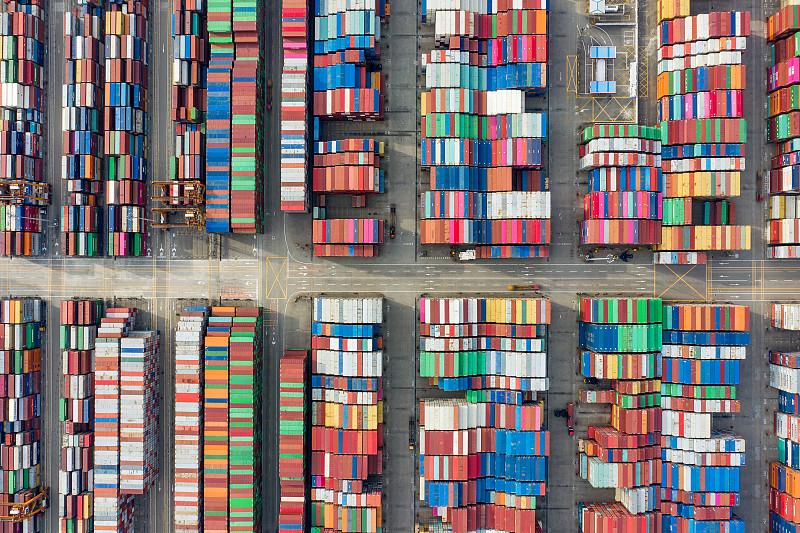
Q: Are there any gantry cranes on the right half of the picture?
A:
No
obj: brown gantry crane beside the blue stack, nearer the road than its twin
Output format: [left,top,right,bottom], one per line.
[145,208,207,232]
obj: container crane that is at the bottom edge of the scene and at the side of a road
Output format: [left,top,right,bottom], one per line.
[0,485,50,520]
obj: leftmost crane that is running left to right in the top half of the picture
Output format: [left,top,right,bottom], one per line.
[0,181,50,206]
